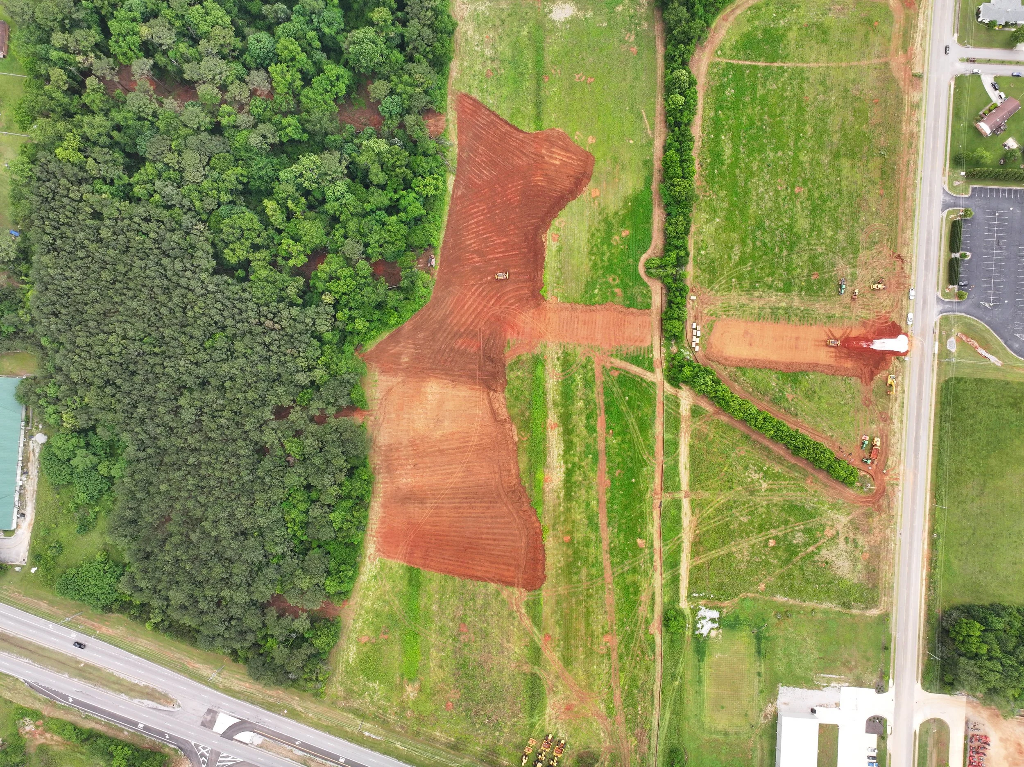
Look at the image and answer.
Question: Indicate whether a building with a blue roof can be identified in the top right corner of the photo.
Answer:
No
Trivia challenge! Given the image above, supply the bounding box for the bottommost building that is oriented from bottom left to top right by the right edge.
[973,96,1020,139]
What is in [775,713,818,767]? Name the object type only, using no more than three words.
building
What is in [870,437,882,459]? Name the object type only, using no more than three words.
vehicle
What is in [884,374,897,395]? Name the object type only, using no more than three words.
vehicle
